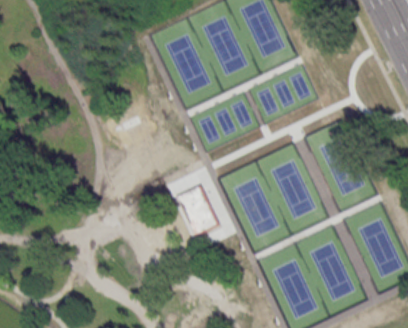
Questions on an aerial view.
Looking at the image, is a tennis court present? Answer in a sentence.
Yes, the image includes a tennis court.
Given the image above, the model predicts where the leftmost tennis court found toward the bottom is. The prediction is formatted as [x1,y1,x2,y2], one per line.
[219,161,292,252]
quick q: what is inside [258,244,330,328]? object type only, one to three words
tennis court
